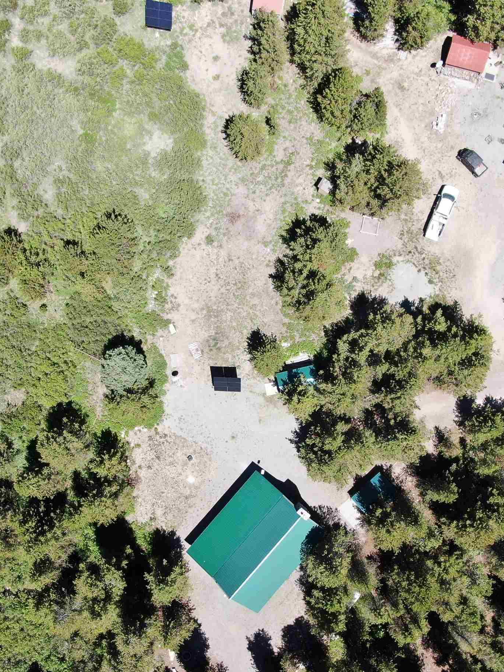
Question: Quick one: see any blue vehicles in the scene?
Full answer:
No, there isn't any blue vehicle down there.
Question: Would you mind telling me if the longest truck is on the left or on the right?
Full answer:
It is on the right.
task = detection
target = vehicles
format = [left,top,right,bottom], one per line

[455,147,488,178]
[422,183,460,245]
